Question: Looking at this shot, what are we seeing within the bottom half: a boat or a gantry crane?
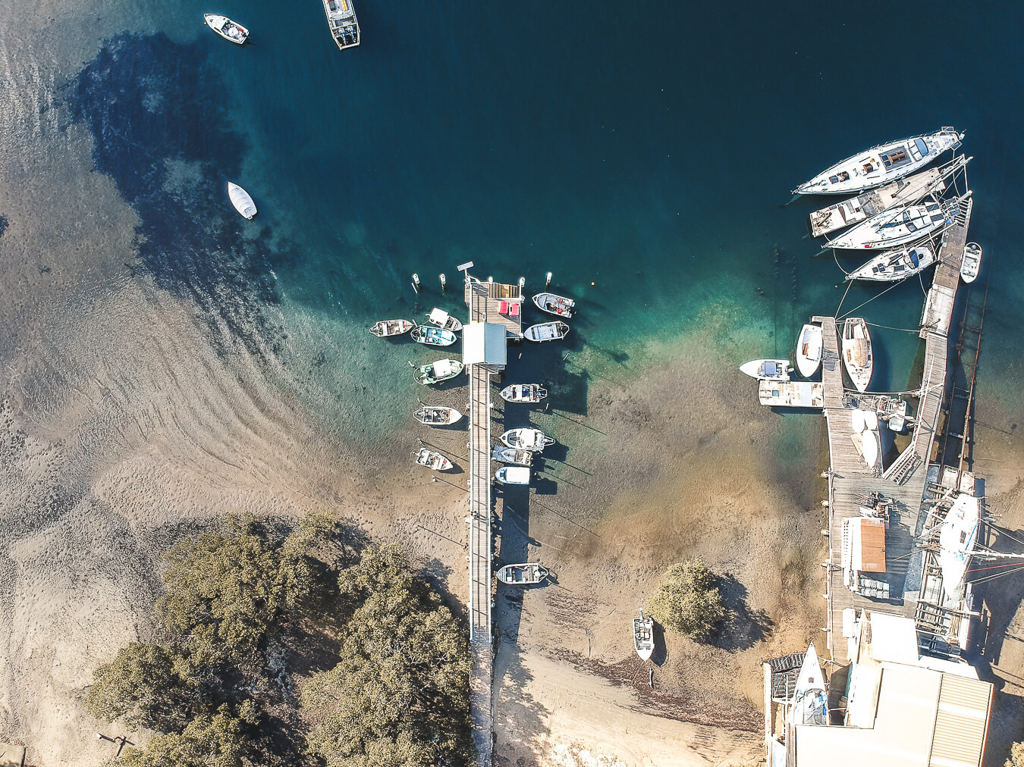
boat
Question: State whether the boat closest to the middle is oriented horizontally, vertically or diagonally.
horizontally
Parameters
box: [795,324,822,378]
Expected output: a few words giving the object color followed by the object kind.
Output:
white boat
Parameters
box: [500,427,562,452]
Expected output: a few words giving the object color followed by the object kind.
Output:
white boat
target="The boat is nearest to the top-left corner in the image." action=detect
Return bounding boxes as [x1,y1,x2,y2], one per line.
[204,12,254,48]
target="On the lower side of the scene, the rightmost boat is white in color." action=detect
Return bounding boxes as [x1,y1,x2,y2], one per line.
[933,491,1024,603]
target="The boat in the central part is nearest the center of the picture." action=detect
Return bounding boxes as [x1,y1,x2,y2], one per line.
[500,384,553,404]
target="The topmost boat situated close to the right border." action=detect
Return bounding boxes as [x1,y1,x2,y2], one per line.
[792,120,973,196]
